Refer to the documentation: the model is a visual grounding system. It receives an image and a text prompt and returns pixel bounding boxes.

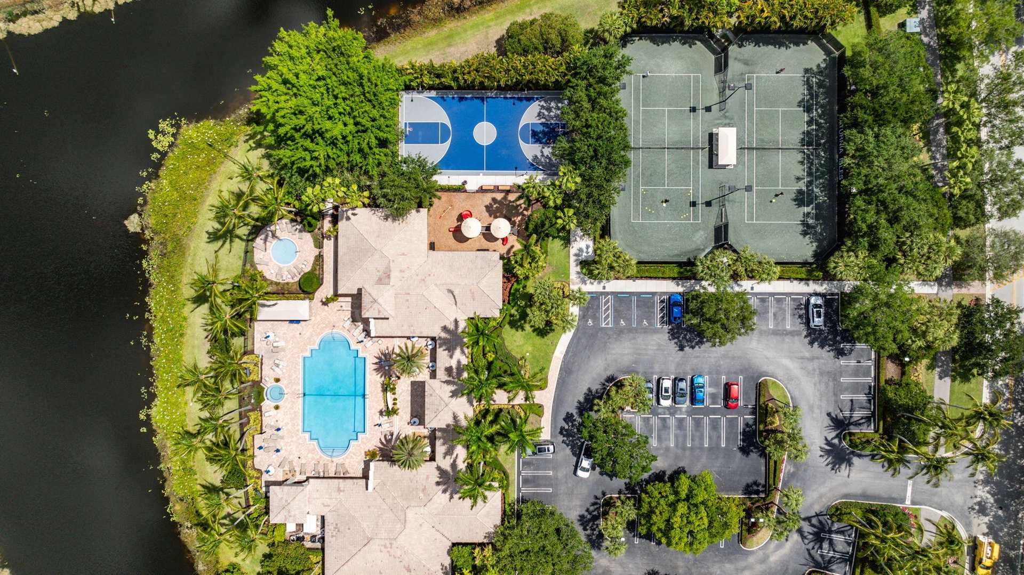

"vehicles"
[725,381,739,409]
[808,296,824,328]
[526,442,556,457]
[576,441,593,478]
[975,537,1006,575]
[674,376,688,405]
[690,375,705,406]
[658,376,672,406]
[669,293,682,323]
[640,377,654,403]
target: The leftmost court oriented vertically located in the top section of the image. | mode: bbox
[613,34,722,261]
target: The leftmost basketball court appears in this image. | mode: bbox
[399,91,570,176]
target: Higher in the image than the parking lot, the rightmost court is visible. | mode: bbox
[722,34,838,261]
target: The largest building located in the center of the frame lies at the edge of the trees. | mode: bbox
[338,208,503,336]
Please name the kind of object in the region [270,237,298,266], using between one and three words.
swimming pool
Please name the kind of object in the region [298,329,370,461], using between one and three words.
swimming pool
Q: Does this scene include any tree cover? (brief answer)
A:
Yes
